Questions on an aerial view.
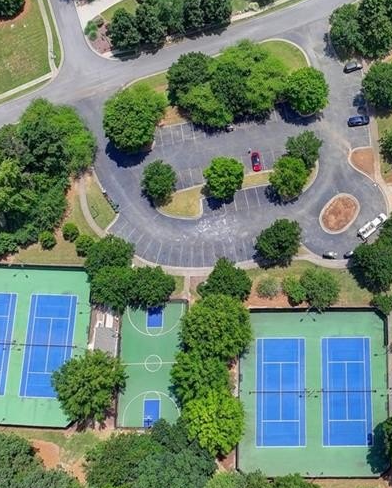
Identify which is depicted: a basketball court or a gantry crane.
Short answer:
basketball court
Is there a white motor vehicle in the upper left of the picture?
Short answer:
No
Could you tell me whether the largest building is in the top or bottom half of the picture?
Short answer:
bottom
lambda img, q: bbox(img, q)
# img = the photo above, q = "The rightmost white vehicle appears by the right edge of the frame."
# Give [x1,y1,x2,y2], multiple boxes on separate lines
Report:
[357,214,386,240]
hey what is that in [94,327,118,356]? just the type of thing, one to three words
building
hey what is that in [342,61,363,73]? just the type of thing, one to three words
vehicle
